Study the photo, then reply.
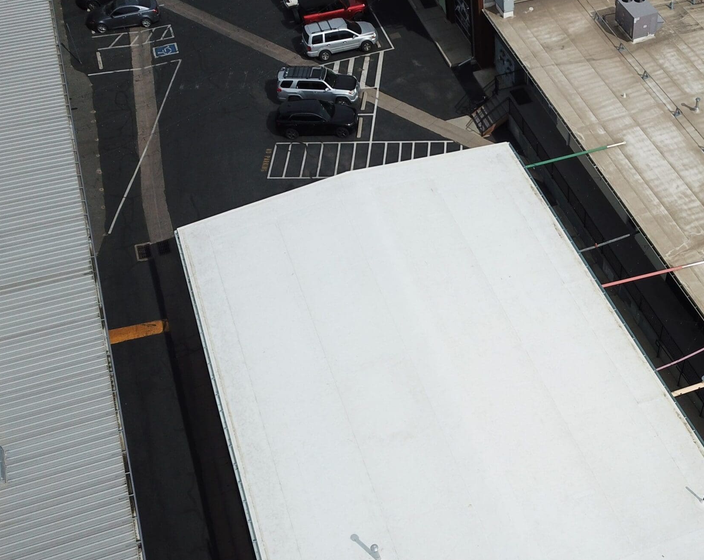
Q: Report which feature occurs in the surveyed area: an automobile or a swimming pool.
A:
automobile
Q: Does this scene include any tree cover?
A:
No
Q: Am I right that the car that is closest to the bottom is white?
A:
No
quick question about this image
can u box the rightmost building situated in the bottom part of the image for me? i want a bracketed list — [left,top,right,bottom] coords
[175,141,704,560]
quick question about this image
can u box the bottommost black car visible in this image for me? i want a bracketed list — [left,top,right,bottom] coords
[271,94,361,139]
